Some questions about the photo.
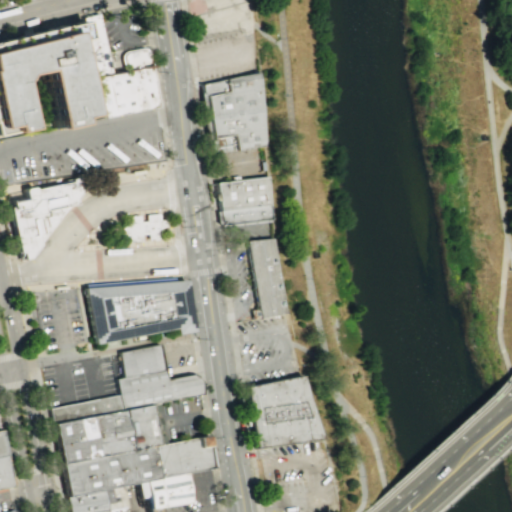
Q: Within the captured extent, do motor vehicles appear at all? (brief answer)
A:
Yes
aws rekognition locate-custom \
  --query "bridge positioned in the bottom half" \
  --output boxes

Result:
[368,380,512,512]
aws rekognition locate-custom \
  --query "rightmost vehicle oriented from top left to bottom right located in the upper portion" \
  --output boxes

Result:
[137,138,161,158]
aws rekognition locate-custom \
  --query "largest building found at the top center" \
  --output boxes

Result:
[204,74,268,152]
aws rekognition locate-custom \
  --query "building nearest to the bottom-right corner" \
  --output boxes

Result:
[253,378,326,448]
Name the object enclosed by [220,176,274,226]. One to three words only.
building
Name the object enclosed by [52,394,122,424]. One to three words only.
shed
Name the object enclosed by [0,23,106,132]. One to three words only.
building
